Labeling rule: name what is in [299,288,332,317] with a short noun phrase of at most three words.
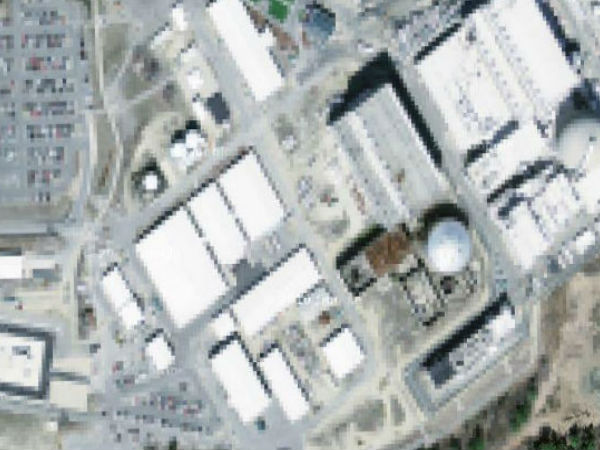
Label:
shed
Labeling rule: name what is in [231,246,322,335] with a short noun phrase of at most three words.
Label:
building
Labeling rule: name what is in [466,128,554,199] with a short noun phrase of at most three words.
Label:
building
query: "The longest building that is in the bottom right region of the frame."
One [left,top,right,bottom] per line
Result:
[424,306,517,390]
